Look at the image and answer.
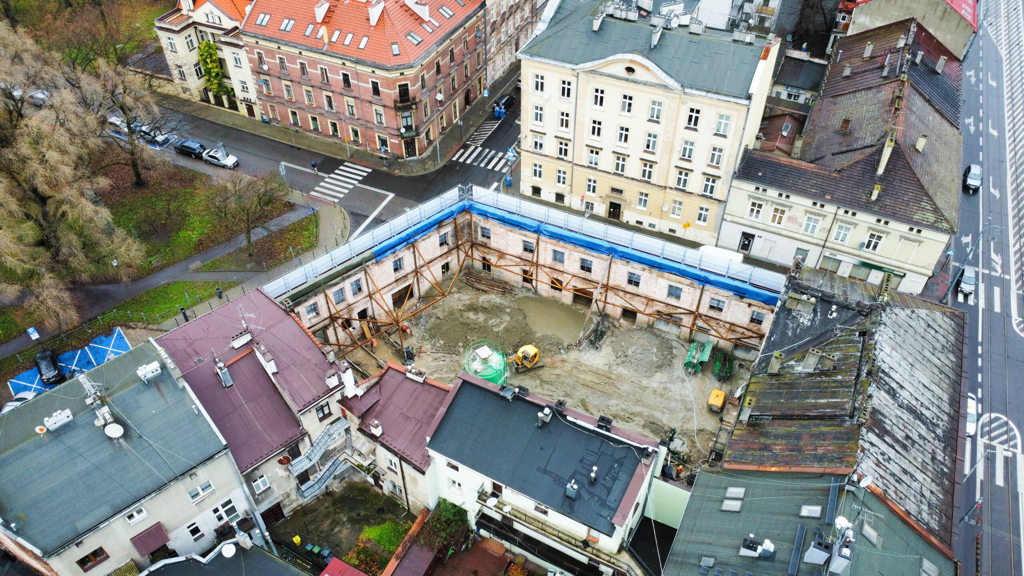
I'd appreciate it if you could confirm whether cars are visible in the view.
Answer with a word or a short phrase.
Yes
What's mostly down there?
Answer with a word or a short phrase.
buildings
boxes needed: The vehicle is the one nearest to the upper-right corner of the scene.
[964,162,985,189]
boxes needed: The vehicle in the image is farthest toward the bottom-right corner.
[965,392,988,437]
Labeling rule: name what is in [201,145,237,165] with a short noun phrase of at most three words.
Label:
car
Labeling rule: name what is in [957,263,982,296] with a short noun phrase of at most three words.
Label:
car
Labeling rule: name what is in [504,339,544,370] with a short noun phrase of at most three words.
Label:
work vehicle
